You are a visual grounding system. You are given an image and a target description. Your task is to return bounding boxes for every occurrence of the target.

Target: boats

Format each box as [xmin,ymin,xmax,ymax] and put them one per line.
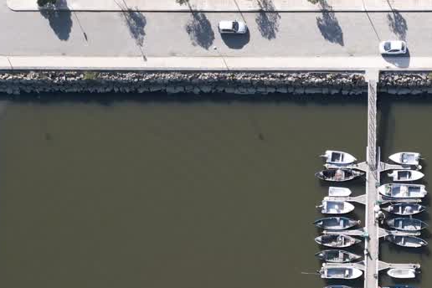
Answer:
[378,202,426,215]
[313,216,357,229]
[378,168,424,181]
[378,182,432,197]
[314,266,363,280]
[314,199,364,214]
[318,149,364,163]
[377,235,428,246]
[378,151,428,164]
[328,186,351,196]
[378,267,422,278]
[313,235,363,247]
[314,168,365,181]
[314,249,365,262]
[384,217,429,230]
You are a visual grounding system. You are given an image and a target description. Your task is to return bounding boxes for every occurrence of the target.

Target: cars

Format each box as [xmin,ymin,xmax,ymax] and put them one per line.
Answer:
[380,40,408,56]
[219,19,248,36]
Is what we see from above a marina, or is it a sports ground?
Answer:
marina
